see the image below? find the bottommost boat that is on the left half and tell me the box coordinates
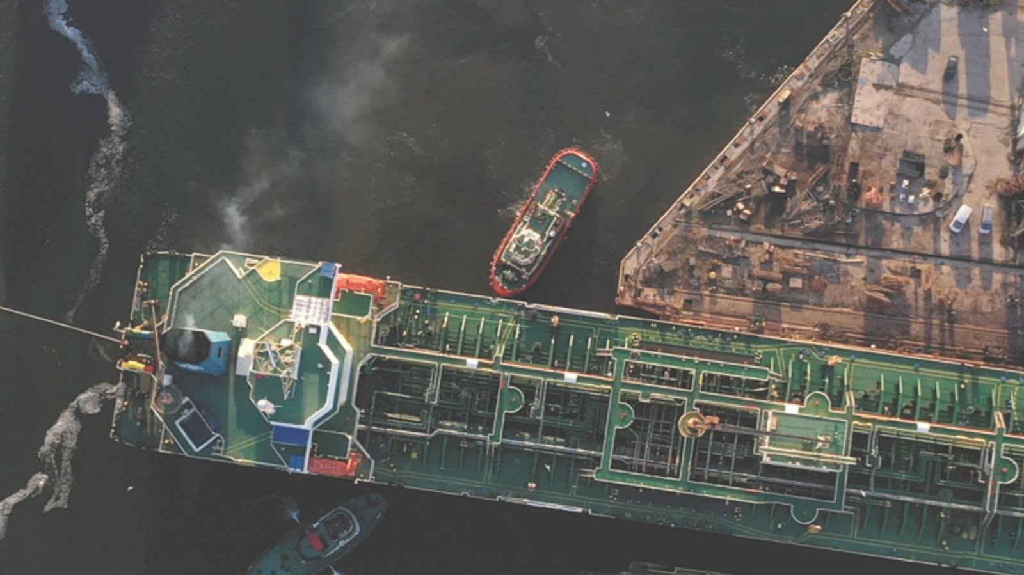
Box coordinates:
[246,489,397,575]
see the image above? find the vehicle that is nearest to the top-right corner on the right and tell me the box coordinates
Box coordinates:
[942,54,960,81]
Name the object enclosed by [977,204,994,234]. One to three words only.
vehicle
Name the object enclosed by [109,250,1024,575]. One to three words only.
ship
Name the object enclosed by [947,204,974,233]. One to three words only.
vehicle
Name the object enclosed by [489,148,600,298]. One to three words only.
boat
